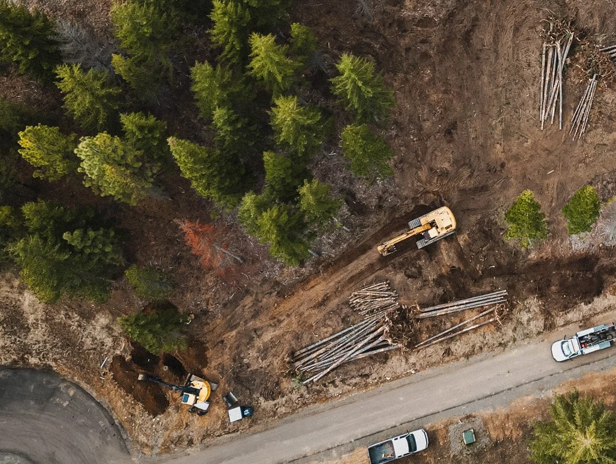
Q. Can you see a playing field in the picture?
No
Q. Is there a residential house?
No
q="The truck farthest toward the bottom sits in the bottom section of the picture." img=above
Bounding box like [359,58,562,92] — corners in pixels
[363,428,433,464]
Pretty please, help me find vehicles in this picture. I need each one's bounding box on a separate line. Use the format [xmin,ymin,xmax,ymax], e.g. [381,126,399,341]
[374,206,455,255]
[363,428,433,464]
[552,323,616,364]
[228,390,259,423]
[149,367,227,414]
